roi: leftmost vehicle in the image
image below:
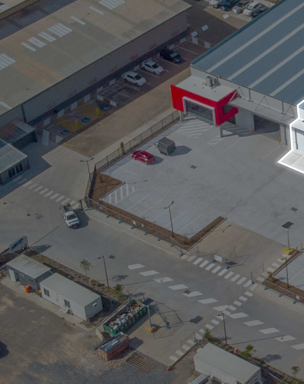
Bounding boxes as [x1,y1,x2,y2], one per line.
[62,204,78,229]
